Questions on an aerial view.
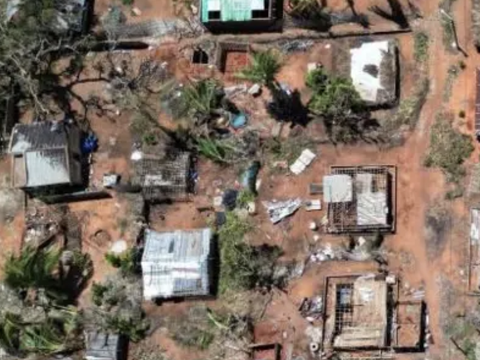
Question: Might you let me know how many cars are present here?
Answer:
zero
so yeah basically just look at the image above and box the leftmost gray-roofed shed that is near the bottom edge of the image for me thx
[84,330,128,360]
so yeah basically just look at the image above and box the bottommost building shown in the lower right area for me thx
[324,272,427,350]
